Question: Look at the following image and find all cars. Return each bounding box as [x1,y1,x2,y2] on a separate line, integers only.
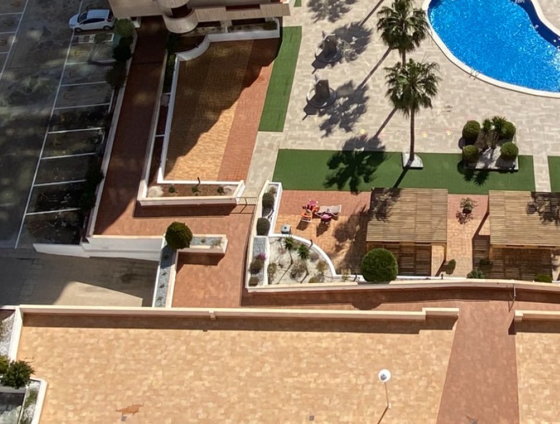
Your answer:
[64,10,112,35]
